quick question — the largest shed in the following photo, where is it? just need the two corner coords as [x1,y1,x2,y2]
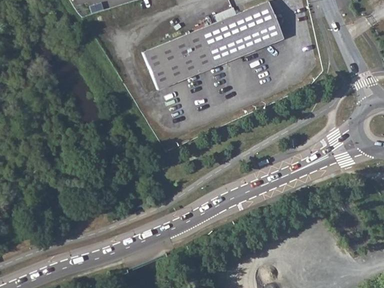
[141,1,284,90]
